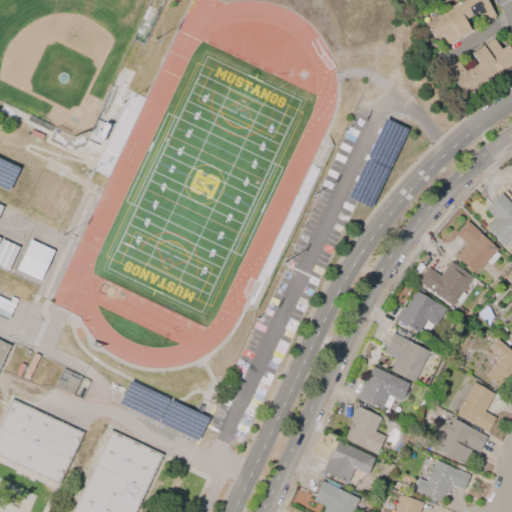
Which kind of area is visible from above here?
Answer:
sports ground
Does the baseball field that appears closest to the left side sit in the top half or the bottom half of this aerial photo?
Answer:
top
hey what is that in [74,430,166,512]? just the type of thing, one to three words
building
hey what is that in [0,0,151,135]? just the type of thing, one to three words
baseball field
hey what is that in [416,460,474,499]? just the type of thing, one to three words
house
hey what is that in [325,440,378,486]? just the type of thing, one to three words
house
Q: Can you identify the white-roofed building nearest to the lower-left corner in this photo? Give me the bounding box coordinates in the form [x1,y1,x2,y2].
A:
[0,399,86,484]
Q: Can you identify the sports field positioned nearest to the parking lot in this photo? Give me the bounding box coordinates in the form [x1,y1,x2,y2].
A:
[96,42,316,326]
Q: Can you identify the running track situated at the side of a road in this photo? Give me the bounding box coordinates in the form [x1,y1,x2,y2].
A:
[54,0,342,372]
